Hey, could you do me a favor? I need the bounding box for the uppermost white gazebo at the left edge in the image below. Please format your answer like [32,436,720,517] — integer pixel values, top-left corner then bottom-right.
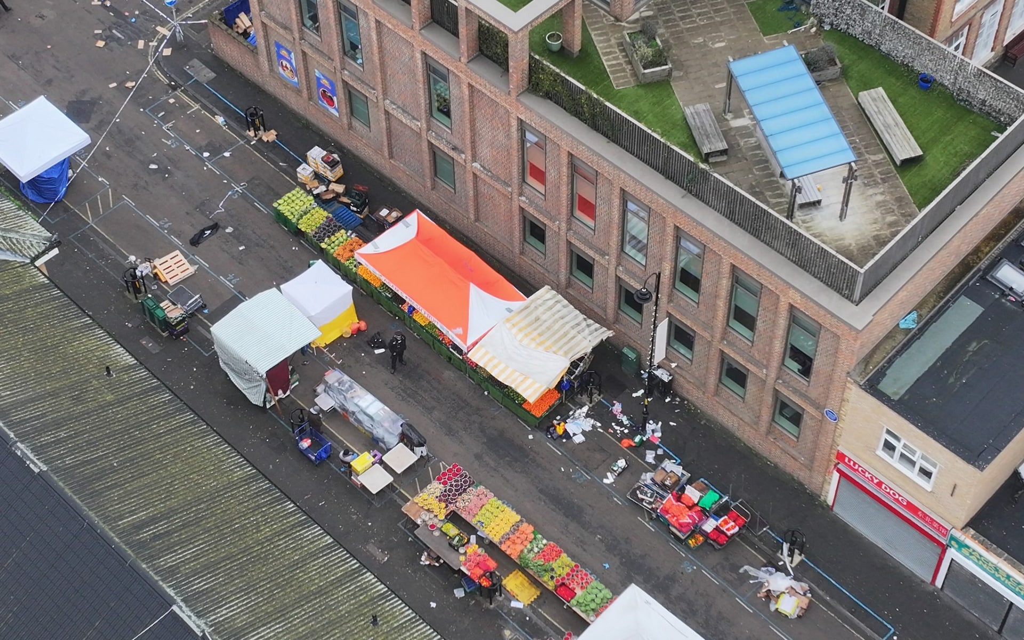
[0,99,100,224]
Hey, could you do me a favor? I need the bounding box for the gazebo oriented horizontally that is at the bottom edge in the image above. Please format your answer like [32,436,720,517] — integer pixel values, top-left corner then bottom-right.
[580,585,706,640]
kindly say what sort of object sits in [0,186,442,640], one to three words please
building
